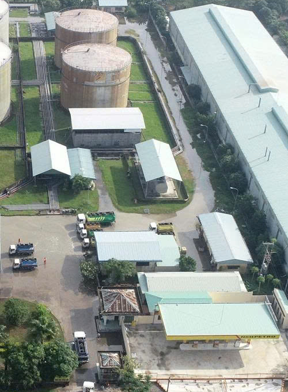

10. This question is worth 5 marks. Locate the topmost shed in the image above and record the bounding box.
[98,0,127,14]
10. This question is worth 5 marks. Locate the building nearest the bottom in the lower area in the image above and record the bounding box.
[97,350,122,379]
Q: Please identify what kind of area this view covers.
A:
industrial area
